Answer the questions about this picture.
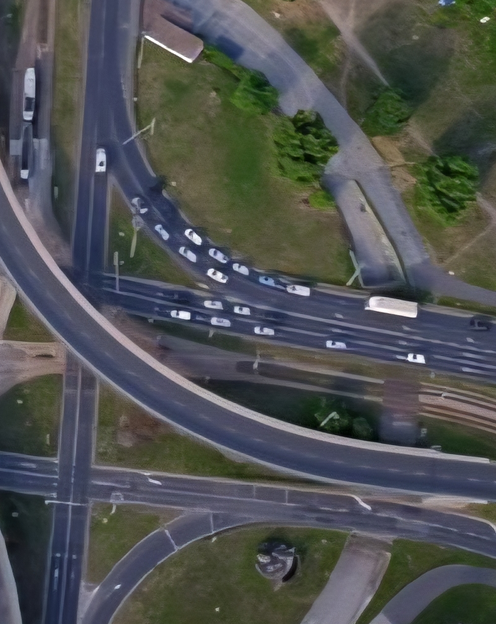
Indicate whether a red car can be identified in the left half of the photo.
No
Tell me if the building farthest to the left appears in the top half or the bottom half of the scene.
top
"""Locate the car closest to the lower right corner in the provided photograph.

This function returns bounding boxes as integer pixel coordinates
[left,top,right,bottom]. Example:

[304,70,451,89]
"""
[405,352,428,367]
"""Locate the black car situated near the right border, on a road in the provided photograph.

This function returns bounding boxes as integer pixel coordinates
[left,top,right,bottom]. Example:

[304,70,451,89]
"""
[468,315,493,332]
